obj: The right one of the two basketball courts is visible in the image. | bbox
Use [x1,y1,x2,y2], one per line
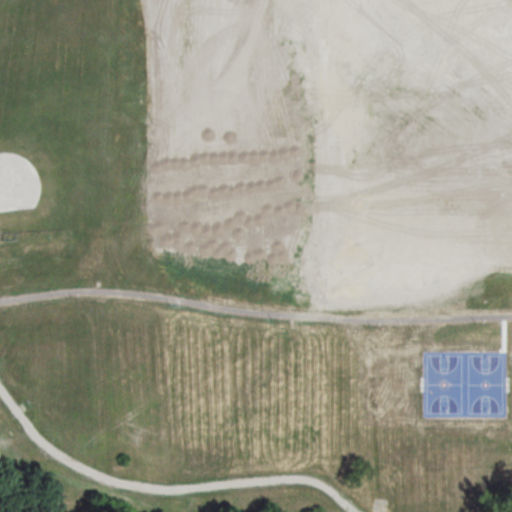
[466,352,508,419]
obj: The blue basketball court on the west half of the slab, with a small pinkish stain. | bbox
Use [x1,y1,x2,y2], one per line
[424,352,466,419]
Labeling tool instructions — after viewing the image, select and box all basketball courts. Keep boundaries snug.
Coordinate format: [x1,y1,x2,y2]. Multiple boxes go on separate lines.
[466,352,508,419]
[424,352,466,419]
